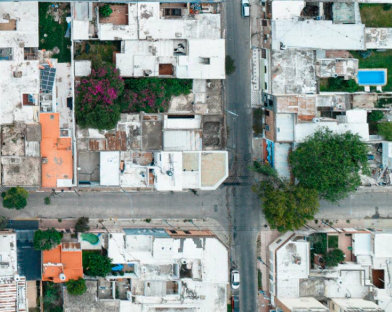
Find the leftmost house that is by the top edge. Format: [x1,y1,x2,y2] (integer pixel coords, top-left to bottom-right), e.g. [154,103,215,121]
[0,1,39,86]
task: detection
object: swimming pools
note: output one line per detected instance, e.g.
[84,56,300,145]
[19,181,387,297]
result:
[79,233,103,249]
[357,69,388,87]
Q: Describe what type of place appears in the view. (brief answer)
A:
residential area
